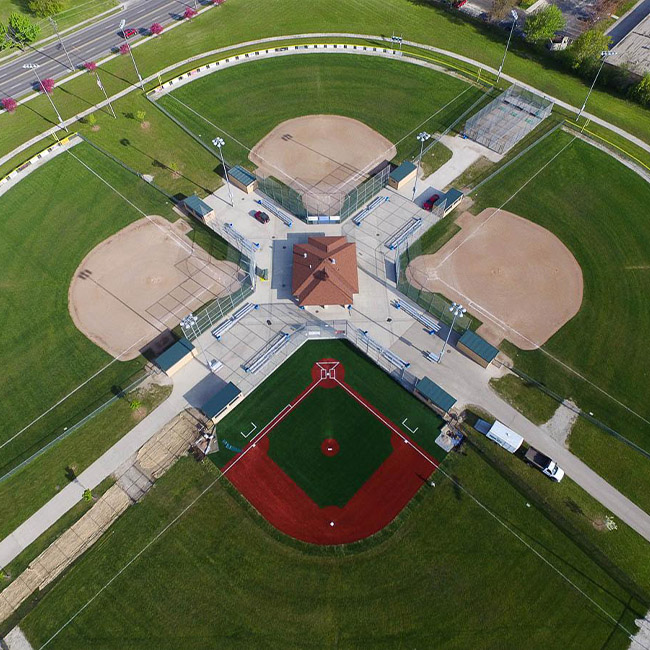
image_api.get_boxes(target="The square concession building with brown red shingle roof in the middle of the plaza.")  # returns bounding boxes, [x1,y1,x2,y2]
[292,235,360,314]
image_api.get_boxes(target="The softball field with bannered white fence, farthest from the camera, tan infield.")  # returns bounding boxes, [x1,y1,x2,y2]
[145,47,491,224]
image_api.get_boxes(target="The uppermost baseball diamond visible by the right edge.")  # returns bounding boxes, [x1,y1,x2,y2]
[395,120,650,456]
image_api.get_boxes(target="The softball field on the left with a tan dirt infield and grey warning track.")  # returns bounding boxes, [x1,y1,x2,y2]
[0,137,256,483]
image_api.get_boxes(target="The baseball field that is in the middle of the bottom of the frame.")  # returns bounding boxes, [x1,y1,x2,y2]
[20,339,649,650]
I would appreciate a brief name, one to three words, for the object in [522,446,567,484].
truck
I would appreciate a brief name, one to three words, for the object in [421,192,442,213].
vehicle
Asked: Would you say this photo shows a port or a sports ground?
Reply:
sports ground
